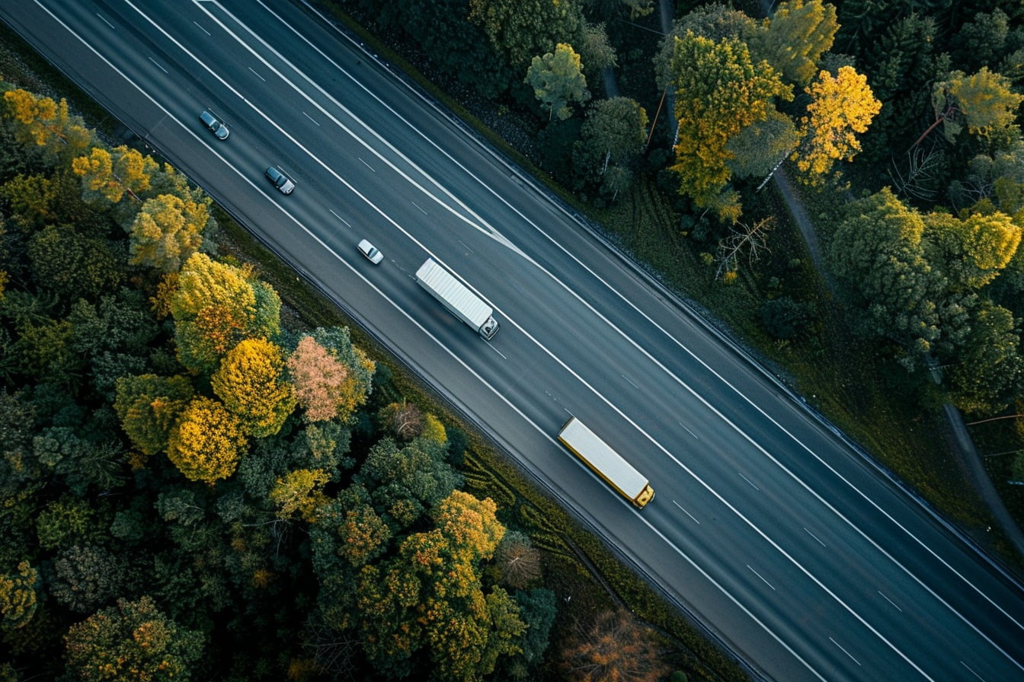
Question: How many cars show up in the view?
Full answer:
The picture shows 3 cars.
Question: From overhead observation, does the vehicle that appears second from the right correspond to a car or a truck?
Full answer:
What you see as the vehicle that appears second from the right is a truck.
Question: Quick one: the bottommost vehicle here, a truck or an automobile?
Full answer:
In the photo, the bottommost vehicle shows up as a truck.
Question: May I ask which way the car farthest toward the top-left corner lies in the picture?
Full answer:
In this picture, the car farthest toward the top-left corner is oriented at an angle.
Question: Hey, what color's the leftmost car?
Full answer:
In this view, the leftmost car is blue.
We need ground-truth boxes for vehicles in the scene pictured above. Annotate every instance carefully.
[556,417,660,512]
[416,258,507,342]
[352,235,388,268]
[262,164,299,197]
[196,109,234,143]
